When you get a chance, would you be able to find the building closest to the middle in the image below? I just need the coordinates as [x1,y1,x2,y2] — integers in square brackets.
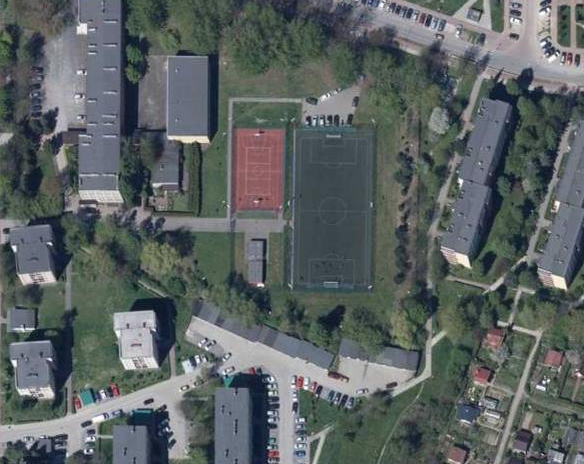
[247,240,265,284]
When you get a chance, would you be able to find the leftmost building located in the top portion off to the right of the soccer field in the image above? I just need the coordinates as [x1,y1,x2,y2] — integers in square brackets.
[440,96,511,267]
